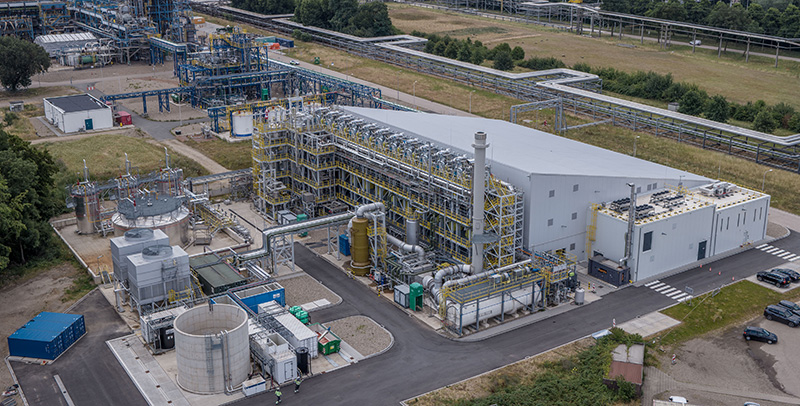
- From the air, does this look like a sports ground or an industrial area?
industrial area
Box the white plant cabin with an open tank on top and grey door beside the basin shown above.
[252,338,295,383]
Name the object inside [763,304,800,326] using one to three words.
car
